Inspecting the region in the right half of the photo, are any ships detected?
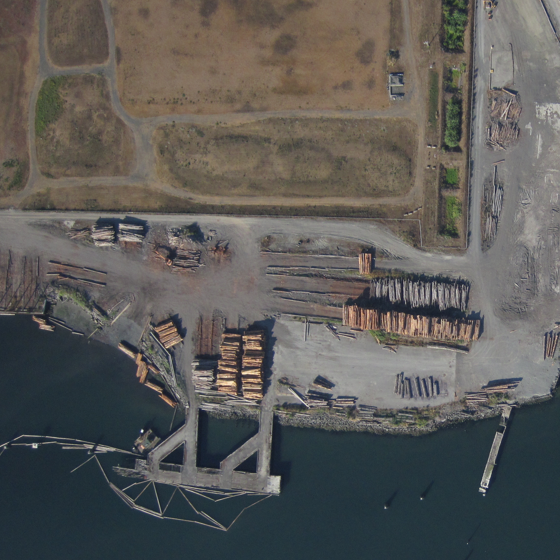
No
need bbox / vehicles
[154,248,174,267]
[484,0,493,9]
